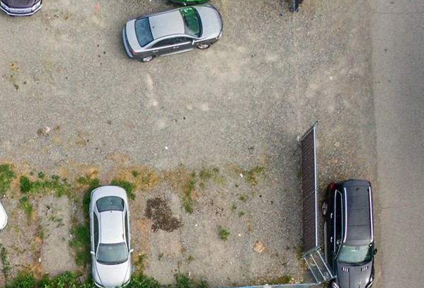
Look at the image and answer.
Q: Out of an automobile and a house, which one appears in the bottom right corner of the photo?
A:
automobile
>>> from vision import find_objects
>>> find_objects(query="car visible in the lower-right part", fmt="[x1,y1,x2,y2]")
[324,176,381,288]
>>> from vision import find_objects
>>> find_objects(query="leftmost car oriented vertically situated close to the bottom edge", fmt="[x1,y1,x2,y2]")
[89,186,136,288]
